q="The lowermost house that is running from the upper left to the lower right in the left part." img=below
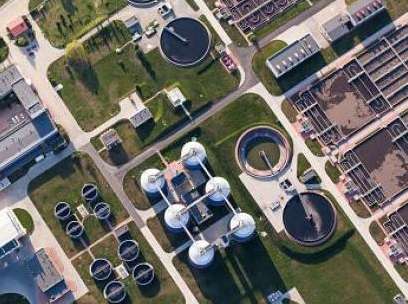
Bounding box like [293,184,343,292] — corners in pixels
[33,248,64,285]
